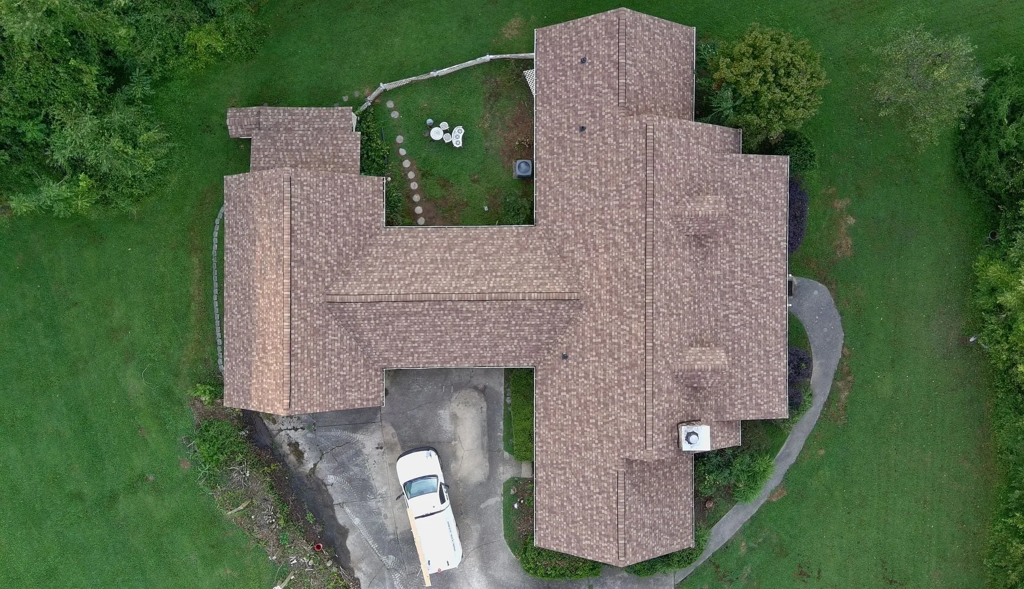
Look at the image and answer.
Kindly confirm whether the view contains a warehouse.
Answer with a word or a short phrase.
No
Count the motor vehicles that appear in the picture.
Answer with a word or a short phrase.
1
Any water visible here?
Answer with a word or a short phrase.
No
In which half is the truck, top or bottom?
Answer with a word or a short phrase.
bottom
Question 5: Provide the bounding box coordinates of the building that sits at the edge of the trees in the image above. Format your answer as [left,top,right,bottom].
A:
[223,8,789,566]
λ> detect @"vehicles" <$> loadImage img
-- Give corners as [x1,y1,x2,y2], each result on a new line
[398,446,464,578]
